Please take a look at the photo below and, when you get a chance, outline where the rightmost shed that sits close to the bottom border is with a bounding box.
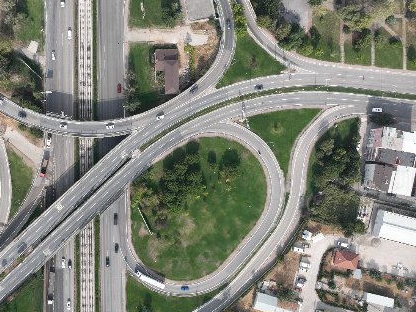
[362,289,395,308]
